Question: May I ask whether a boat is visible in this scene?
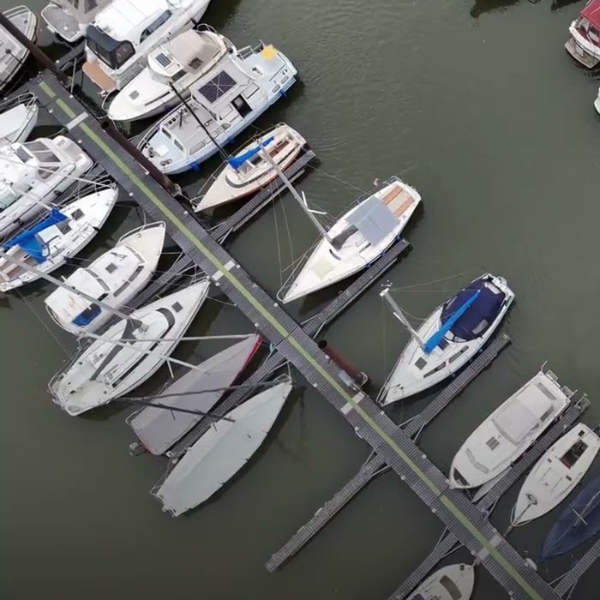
Yes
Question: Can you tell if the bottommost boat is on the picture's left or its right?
right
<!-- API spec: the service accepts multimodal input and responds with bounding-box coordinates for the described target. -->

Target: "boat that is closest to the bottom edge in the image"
[403,560,480,600]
